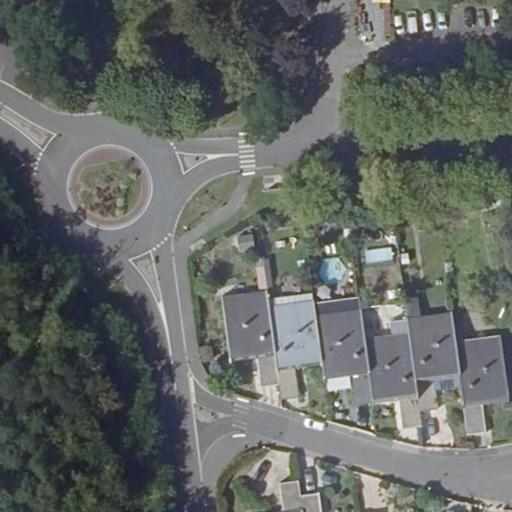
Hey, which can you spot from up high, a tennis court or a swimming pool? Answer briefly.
swimming pool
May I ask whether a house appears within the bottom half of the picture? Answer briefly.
Yes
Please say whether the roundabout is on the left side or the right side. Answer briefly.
left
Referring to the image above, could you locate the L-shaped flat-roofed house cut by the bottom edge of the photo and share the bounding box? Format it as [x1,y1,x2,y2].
[280,482,321,512]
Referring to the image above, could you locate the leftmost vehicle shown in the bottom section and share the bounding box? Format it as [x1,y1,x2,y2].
[256,458,273,479]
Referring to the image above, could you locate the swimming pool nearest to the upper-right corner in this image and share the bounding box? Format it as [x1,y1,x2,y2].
[366,248,392,264]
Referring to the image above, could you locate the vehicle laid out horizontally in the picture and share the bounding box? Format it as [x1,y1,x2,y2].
[303,418,325,431]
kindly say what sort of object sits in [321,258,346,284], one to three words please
swimming pool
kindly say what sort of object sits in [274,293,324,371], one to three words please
house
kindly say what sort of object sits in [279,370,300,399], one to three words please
building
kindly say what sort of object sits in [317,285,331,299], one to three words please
umbrella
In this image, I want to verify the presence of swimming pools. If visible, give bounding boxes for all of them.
[366,248,392,264]
[321,258,346,284]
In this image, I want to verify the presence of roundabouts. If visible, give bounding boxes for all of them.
[34,112,186,262]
